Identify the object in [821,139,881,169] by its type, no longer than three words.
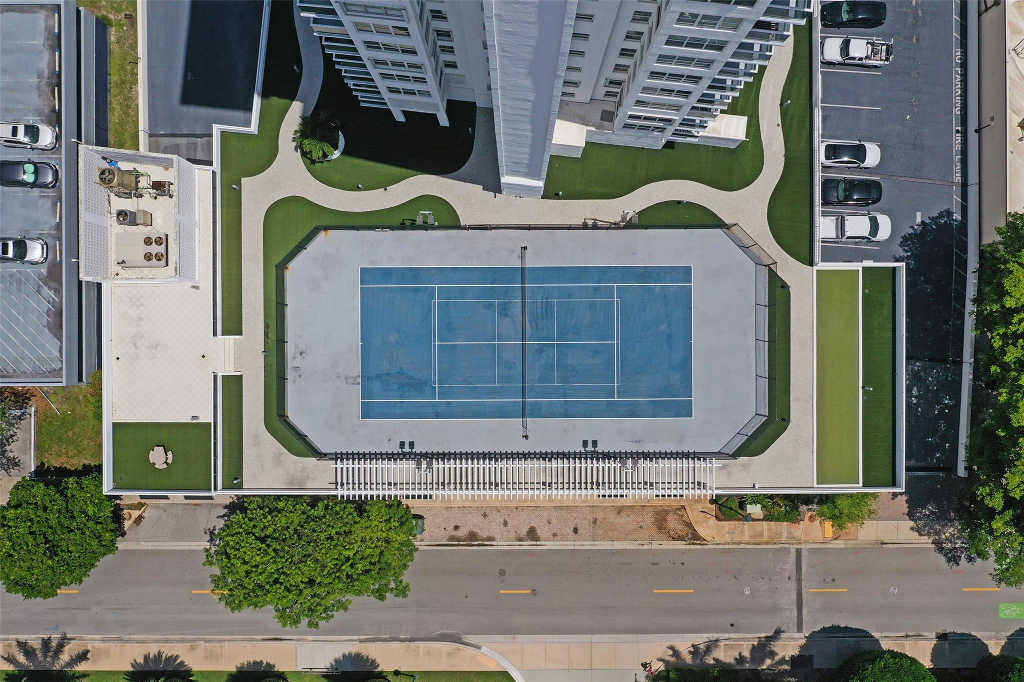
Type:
car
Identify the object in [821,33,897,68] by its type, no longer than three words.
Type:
truck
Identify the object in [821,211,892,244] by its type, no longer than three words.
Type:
truck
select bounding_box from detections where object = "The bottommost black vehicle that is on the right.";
[821,176,882,207]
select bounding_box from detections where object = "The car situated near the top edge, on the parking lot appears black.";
[821,0,885,31]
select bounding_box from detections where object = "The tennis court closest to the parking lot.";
[287,229,766,454]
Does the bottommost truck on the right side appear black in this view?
No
